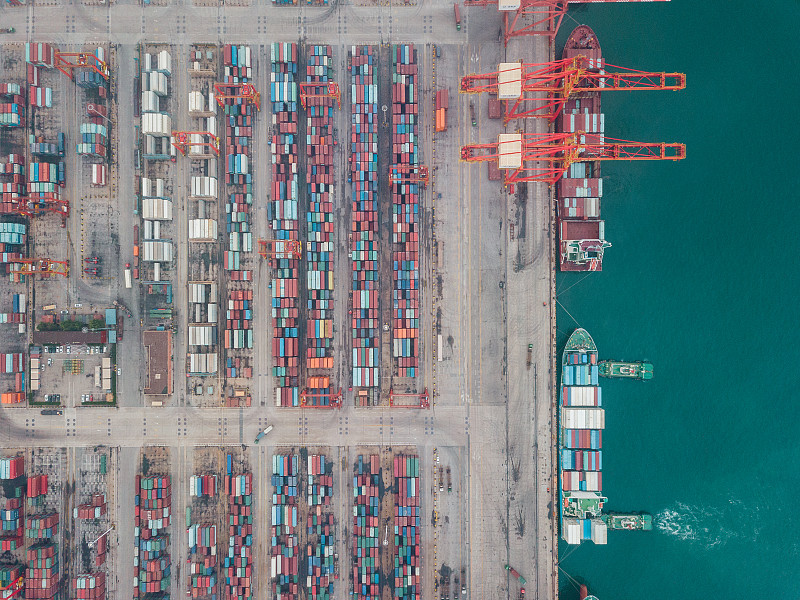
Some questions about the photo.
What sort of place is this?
port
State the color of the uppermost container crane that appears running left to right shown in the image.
red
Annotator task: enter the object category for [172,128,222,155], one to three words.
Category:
container crane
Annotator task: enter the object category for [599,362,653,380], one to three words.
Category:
boat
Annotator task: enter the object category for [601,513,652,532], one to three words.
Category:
boat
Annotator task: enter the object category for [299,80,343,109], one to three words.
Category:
container crane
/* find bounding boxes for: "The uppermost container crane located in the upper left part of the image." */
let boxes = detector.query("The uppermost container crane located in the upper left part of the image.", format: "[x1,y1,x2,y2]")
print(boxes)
[55,49,112,80]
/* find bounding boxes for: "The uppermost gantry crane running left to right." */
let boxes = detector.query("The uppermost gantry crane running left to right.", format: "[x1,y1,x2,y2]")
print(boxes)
[461,0,687,49]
